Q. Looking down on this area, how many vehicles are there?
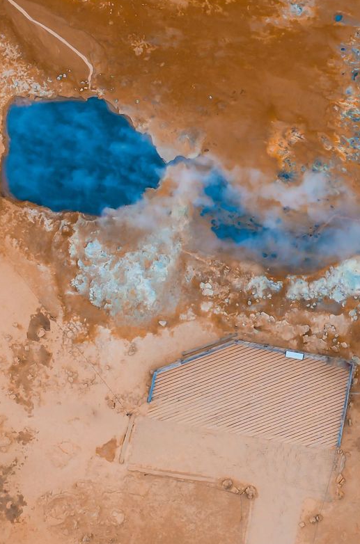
0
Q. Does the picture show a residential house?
No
